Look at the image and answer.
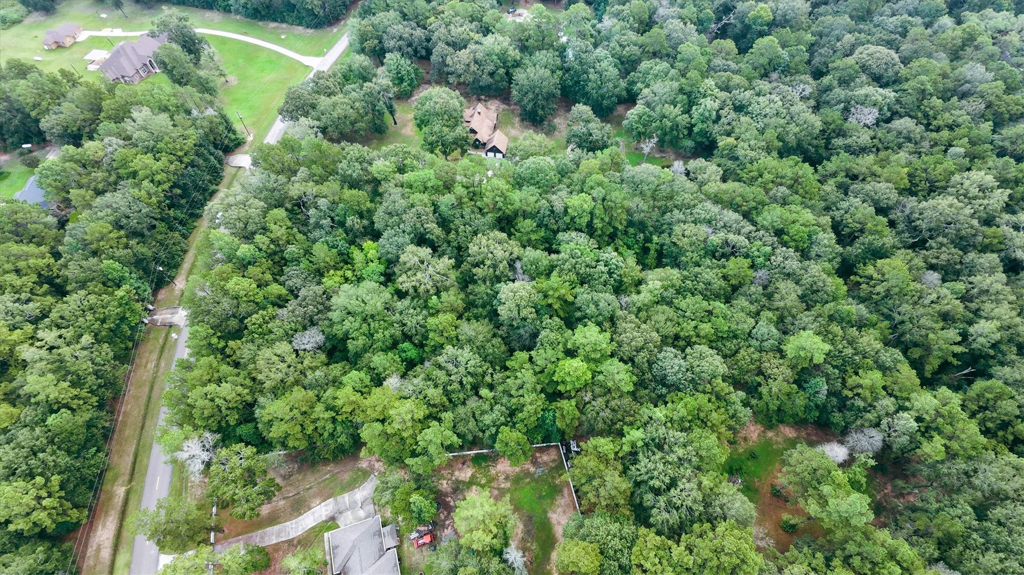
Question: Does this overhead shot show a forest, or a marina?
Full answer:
What you see here is a forest.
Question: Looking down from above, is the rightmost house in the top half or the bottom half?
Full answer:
The top half of the photo is where the rightmost house is.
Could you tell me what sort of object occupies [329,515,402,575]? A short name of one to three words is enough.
house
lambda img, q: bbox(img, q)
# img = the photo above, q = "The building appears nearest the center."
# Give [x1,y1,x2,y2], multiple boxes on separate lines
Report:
[464,103,508,159]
